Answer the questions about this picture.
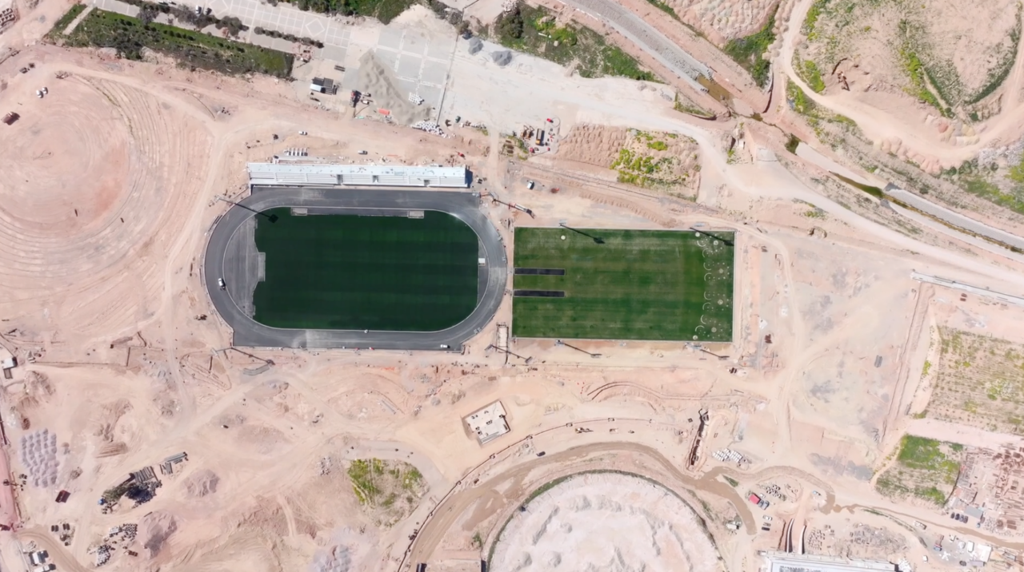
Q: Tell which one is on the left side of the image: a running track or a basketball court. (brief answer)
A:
running track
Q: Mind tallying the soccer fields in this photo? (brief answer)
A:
2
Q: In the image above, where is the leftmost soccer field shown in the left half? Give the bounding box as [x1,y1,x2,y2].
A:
[253,207,478,331]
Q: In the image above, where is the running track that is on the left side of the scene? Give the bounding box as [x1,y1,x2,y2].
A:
[205,187,507,351]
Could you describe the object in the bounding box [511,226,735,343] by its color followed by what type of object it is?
green soccer field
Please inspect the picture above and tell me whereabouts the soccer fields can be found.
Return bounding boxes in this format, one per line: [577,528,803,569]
[253,207,478,331]
[511,226,735,343]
